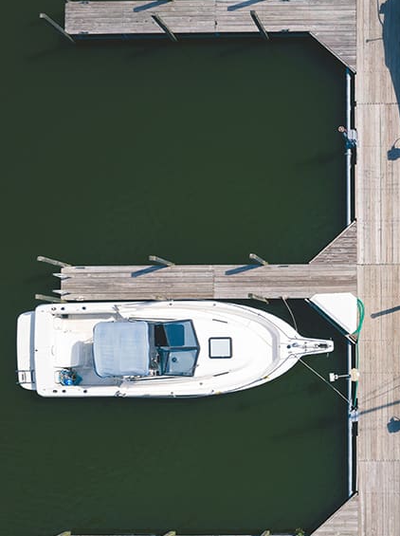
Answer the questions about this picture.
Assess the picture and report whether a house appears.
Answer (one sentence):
No, no house is visible in the scene.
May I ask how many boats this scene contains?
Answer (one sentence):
Just 1 boat appears in this view.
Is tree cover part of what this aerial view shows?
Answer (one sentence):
No, tree cover can't be seen anywhere here.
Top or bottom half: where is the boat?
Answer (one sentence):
The bottom half of the photo is where the boat is.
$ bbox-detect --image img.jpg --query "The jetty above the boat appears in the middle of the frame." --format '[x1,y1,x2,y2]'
[60,221,357,302]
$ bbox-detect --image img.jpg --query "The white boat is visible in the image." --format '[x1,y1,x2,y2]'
[16,300,334,399]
